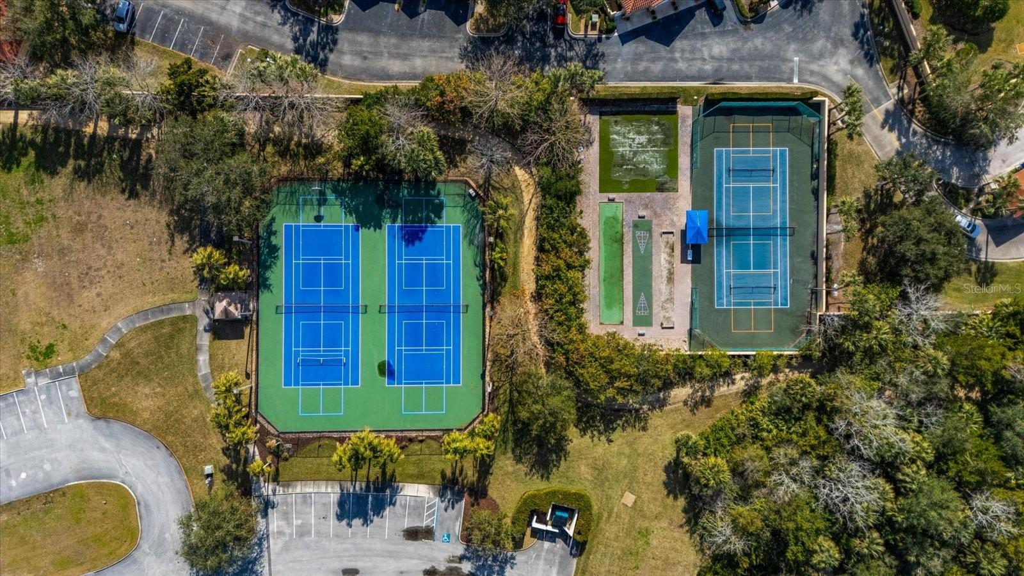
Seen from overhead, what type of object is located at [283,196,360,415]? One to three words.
tennis court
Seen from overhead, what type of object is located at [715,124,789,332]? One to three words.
tennis court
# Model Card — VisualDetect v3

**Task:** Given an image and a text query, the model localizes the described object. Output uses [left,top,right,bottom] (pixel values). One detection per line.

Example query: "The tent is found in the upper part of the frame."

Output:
[683,210,708,245]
